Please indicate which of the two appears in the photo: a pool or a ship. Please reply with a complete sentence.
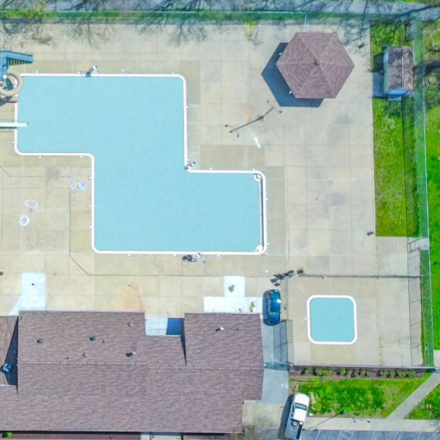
Of the two, only a pool appears.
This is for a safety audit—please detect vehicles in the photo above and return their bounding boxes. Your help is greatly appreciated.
[263,289,281,326]
[283,392,308,440]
